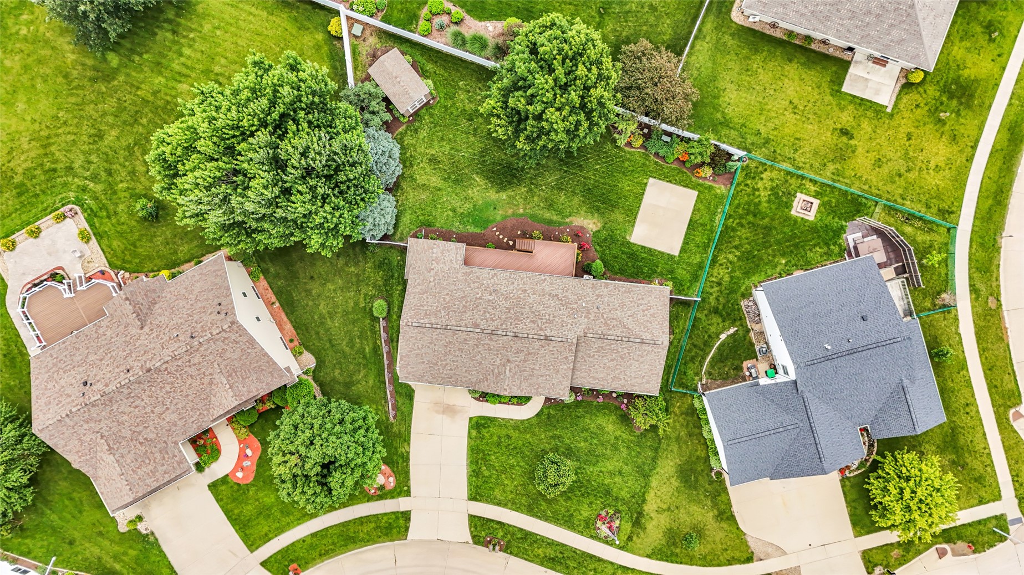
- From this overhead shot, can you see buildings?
Yes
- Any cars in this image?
No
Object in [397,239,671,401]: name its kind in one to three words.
house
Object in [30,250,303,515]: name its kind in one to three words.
house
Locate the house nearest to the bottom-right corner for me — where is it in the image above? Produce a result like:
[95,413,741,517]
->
[702,253,947,488]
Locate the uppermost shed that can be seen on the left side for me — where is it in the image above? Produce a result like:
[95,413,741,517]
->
[367,47,432,116]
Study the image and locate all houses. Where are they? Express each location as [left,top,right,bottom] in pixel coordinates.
[738,0,956,73]
[0,559,37,575]
[30,250,303,515]
[702,253,947,488]
[397,239,671,401]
